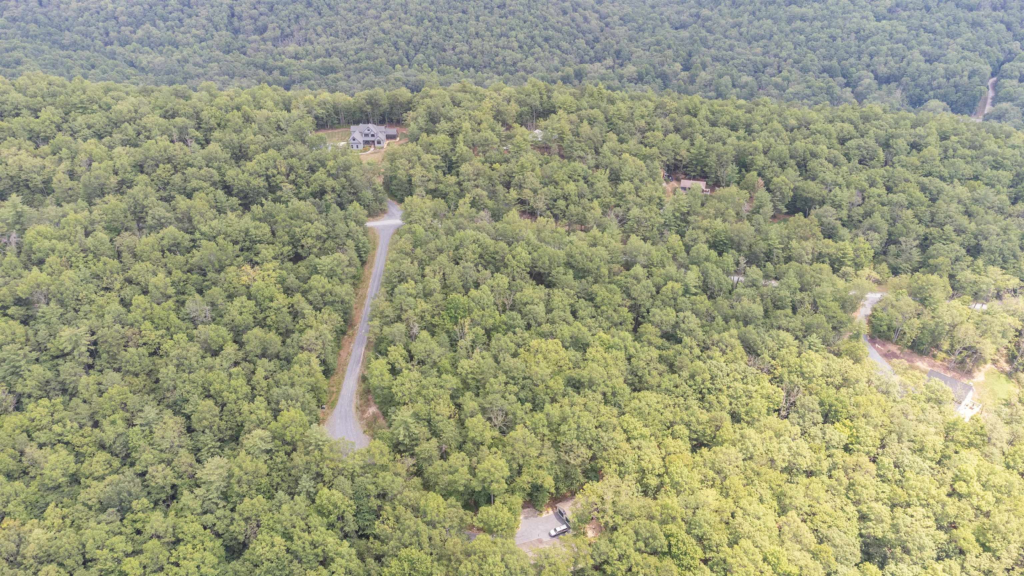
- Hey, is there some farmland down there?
No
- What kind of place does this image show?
forest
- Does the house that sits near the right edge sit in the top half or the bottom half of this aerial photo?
bottom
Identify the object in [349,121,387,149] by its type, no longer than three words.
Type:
house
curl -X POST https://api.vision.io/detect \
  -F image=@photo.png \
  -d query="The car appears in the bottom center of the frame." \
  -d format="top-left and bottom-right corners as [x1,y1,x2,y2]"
[547,523,570,539]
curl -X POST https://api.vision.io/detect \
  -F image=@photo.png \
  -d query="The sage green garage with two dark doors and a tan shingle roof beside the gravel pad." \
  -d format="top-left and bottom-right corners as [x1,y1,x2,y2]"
[555,491,582,532]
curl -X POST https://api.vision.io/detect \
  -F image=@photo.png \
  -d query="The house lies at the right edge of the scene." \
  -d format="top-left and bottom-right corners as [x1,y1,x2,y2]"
[926,368,980,424]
